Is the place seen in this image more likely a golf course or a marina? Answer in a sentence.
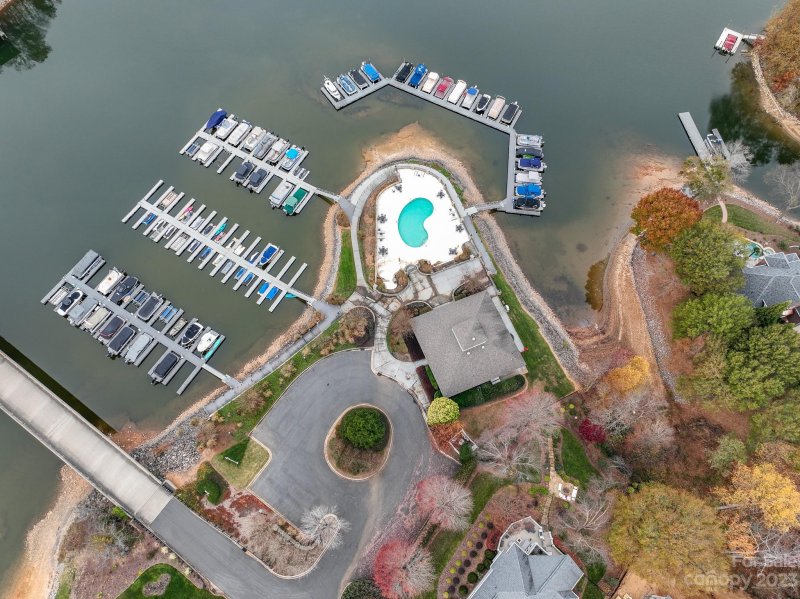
The picture captures a marina.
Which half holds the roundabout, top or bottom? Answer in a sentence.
It is in the bottom half that the roundabout appears.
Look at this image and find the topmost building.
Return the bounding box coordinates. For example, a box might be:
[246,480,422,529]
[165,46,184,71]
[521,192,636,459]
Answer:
[742,251,800,317]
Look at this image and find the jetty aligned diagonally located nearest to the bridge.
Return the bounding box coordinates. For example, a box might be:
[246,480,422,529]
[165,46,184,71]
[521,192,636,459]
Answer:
[41,258,238,396]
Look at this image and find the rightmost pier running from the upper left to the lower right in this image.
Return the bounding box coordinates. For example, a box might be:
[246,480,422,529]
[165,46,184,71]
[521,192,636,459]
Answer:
[680,110,739,185]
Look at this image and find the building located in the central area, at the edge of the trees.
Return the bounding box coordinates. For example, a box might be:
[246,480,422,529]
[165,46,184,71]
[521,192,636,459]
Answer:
[411,291,527,398]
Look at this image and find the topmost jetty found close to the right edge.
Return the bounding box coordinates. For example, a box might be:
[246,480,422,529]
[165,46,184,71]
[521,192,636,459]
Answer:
[702,26,766,70]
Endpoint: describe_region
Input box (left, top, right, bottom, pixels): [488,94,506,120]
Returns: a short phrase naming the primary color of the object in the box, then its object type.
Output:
white boat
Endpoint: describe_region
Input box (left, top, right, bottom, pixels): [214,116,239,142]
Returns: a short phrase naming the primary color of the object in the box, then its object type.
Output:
white boat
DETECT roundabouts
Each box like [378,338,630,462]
[323,402,393,481]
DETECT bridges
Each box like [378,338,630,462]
[0,344,174,523]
